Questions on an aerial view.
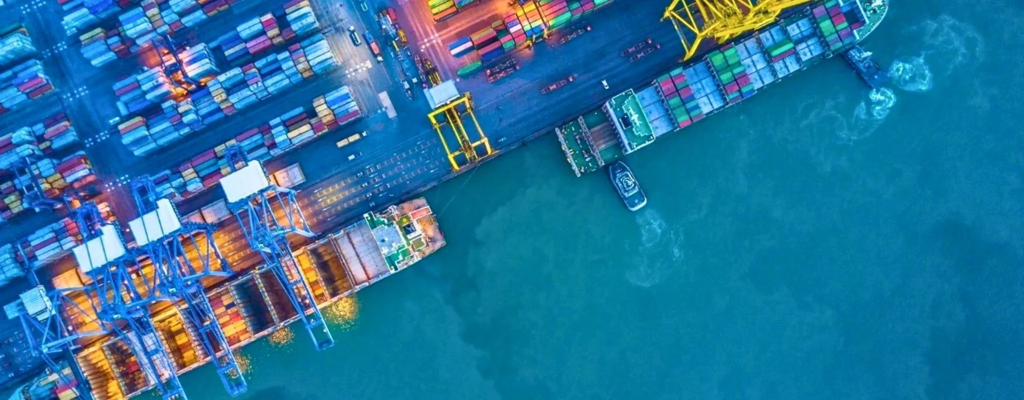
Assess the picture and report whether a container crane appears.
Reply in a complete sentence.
Yes, there's a container crane down there.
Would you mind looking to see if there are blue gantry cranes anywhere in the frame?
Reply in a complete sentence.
Yes, this view includes a blue gantry crane.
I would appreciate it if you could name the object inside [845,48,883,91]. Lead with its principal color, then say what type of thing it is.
blue boat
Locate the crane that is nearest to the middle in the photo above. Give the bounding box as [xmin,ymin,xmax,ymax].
[420,65,498,172]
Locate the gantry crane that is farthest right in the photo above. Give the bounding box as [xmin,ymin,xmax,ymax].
[728,0,829,42]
